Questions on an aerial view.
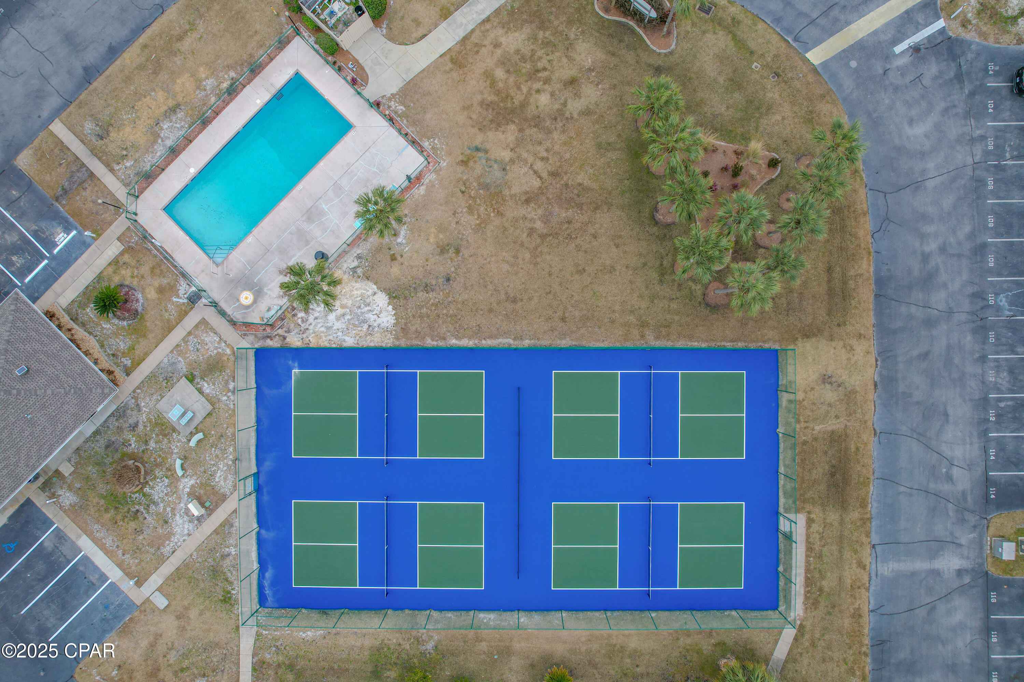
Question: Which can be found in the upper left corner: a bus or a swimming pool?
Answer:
swimming pool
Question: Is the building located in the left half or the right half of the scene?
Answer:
left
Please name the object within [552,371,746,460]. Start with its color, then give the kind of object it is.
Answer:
green sports court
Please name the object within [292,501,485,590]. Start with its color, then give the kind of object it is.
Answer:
green sports court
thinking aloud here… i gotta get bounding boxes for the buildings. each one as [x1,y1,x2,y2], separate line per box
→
[0,288,120,511]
